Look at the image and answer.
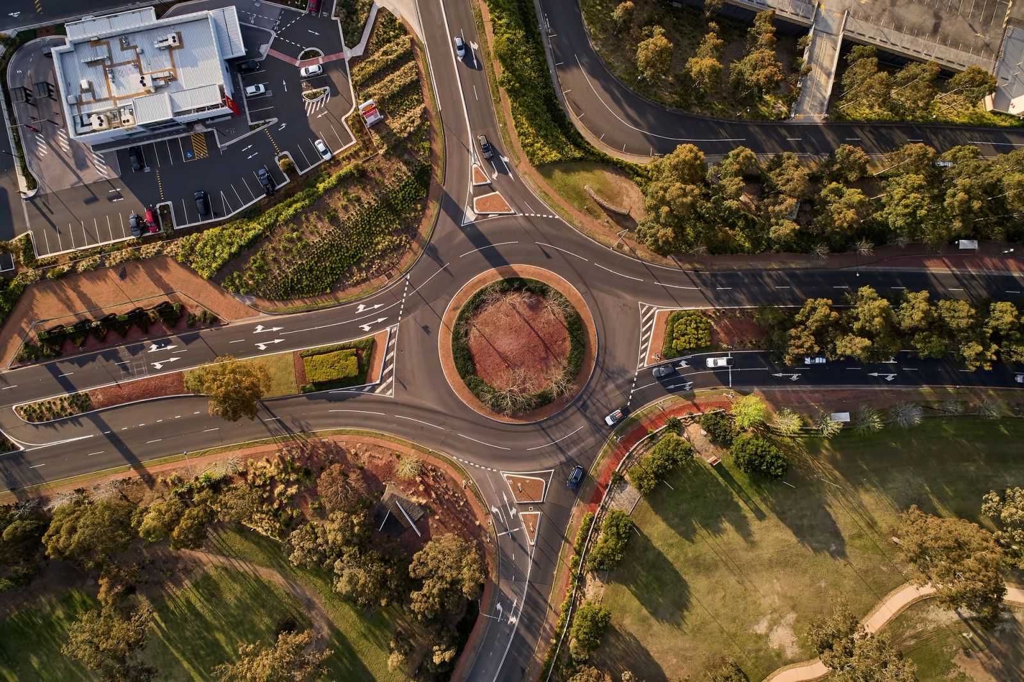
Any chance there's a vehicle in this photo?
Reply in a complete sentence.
Yes, a vehicle is visible in the scene.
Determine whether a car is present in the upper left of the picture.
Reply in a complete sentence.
Yes, I can see a car in the upper left of the picture.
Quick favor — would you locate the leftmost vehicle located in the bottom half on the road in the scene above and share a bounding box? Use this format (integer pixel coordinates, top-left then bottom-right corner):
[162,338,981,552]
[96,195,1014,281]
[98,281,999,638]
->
[567,464,584,489]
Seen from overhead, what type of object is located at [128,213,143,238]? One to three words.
car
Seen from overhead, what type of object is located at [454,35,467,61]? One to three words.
vehicle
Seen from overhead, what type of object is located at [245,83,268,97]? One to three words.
car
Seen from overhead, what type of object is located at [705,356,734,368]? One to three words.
vehicle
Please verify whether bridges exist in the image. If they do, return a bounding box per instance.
[793,0,852,117]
